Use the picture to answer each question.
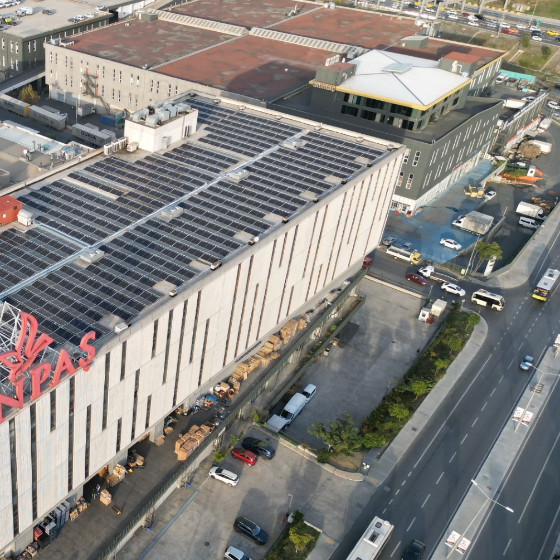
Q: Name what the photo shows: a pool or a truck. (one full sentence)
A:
It is a truck that can be seen here.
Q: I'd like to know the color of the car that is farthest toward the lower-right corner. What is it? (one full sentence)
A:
In this view, the car that is farthest toward the lower-right corner is black.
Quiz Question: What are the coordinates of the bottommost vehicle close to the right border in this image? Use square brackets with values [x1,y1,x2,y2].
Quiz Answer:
[518,350,537,370]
